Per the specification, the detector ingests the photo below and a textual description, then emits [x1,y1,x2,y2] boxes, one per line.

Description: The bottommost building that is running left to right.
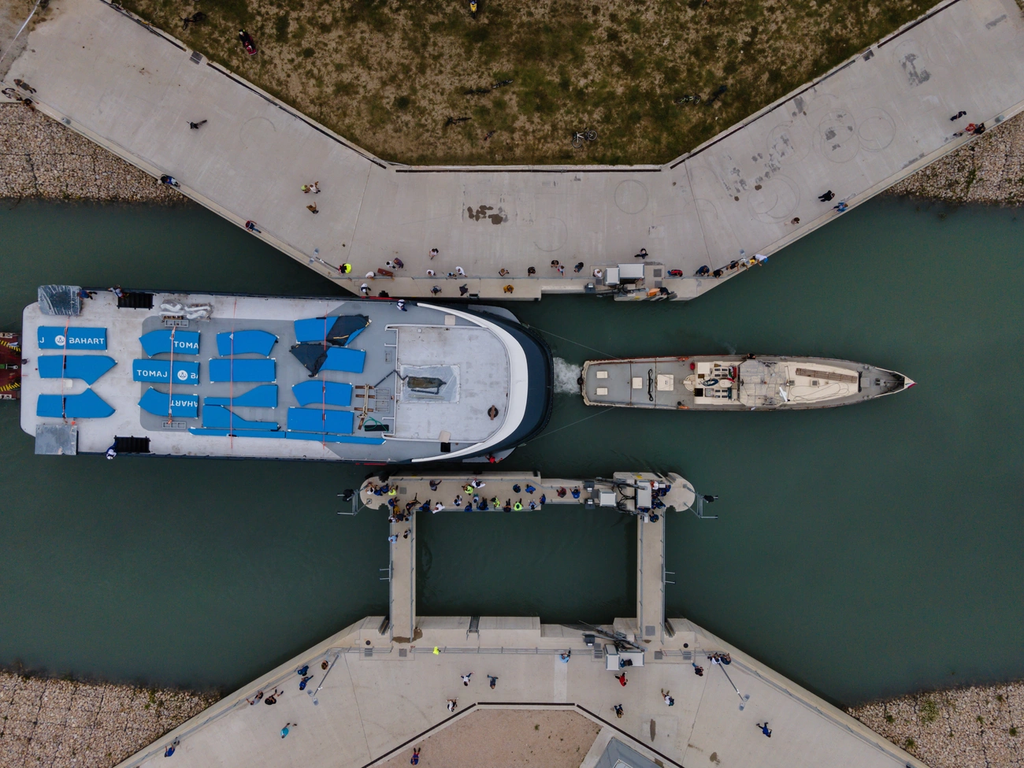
[594,736,666,768]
